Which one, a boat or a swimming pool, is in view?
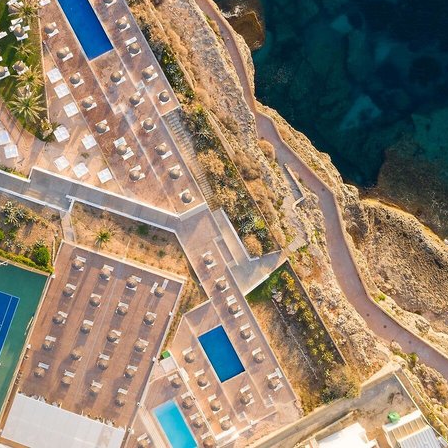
swimming pool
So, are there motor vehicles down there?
No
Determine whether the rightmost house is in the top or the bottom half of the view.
bottom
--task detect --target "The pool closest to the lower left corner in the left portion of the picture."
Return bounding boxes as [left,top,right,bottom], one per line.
[152,398,200,448]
